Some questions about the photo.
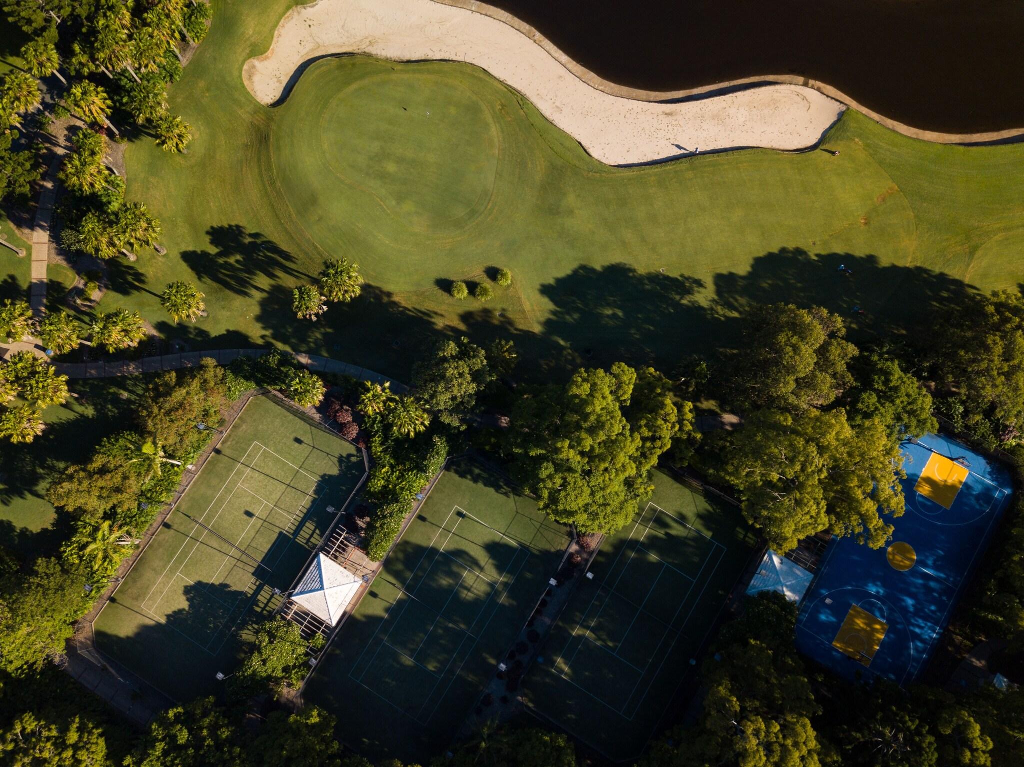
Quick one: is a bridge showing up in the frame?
No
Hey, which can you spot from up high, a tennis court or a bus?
tennis court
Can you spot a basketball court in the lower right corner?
Yes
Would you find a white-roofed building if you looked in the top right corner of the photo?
No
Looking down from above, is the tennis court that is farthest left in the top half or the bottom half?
bottom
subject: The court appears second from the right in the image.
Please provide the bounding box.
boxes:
[521,468,756,764]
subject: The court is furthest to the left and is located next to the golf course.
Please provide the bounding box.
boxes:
[92,391,368,706]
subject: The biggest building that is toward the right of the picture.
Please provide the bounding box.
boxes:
[742,549,815,608]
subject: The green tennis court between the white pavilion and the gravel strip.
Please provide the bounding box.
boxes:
[301,456,577,767]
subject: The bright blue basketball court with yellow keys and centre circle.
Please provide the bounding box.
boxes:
[798,424,1015,703]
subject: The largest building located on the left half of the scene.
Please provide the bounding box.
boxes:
[289,552,363,627]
